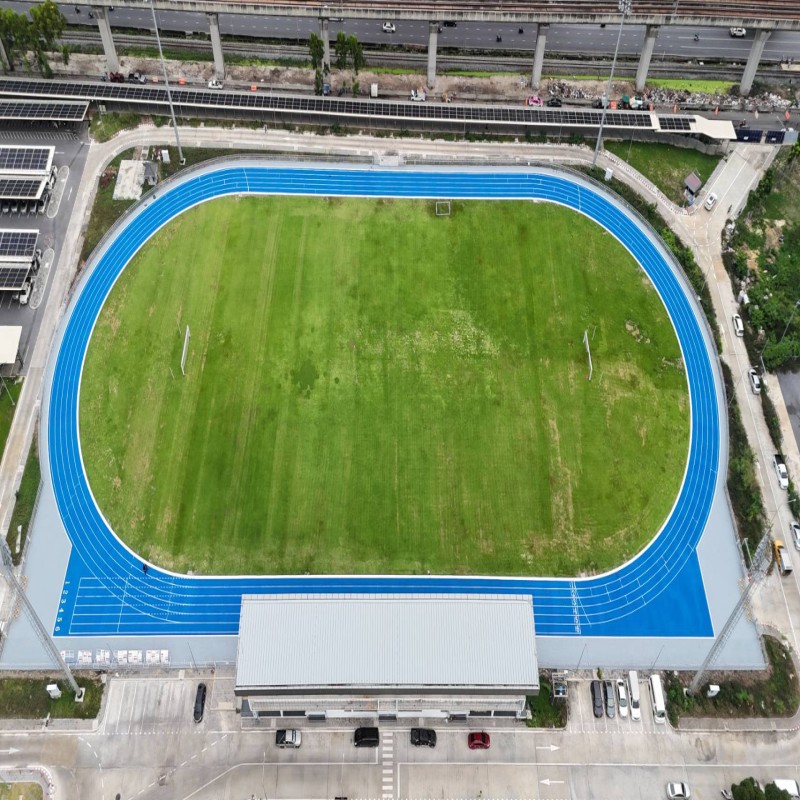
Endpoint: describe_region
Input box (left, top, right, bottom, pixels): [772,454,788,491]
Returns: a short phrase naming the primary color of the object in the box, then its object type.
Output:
white vehicle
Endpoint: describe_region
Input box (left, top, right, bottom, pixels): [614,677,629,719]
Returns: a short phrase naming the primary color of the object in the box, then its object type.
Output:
white car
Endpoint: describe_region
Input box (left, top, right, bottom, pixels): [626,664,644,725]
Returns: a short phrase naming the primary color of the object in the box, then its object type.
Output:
white vehicle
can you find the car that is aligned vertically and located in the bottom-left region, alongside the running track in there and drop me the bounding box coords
[192,681,206,725]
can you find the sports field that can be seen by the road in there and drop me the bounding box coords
[78,194,690,577]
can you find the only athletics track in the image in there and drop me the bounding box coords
[0,159,767,670]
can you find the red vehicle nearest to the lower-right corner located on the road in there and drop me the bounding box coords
[467,731,491,751]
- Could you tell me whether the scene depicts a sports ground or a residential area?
sports ground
